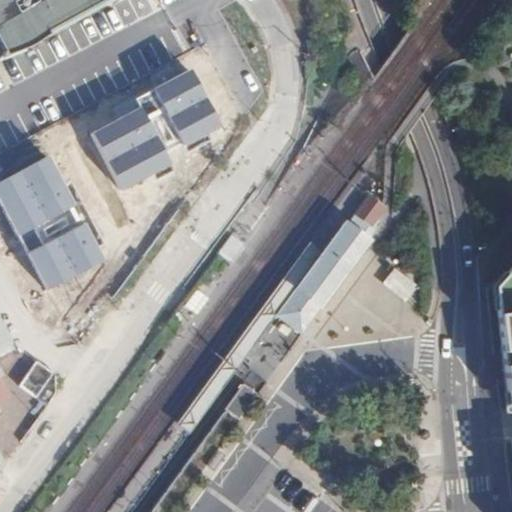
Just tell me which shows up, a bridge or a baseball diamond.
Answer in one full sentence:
The image shows a bridge.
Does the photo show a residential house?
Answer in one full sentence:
Yes, there's a residential house down there.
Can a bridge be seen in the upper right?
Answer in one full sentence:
Yes, a bridge shows up in the upper right.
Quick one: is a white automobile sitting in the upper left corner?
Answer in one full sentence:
Yes, a white automobile appears in the upper left corner.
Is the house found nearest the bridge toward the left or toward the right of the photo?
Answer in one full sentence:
You can find the house found nearest the bridge on the right side of the picture.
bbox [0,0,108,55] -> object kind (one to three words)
building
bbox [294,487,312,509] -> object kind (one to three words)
car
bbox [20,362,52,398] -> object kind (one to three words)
building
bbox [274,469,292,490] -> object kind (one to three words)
car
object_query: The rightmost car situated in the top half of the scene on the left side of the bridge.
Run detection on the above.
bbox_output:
[244,70,258,91]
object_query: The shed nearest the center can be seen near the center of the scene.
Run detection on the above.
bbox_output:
[220,234,246,262]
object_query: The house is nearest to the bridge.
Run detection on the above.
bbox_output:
[356,193,390,228]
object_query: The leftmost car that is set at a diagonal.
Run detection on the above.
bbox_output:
[5,56,22,78]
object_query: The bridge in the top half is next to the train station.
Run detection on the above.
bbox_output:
[350,32,457,144]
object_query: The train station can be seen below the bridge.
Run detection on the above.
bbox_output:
[48,129,391,512]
